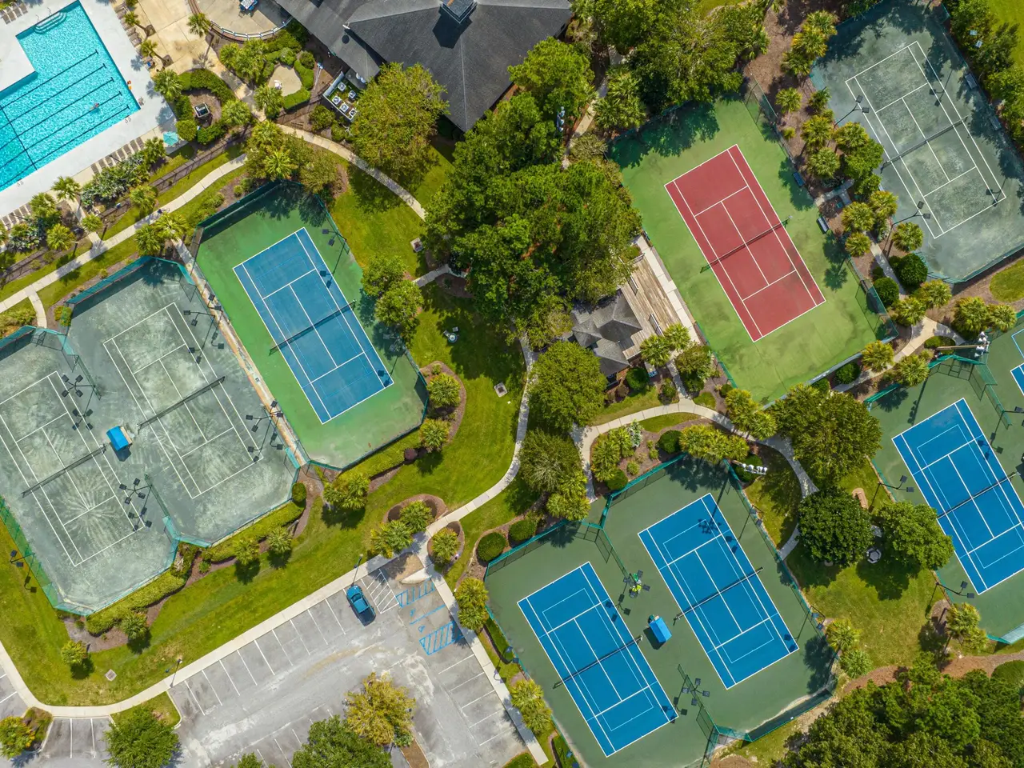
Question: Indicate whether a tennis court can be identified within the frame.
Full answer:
Yes, the image includes a tennis court.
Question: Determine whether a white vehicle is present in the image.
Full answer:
No, the frame has no white vehicle in it.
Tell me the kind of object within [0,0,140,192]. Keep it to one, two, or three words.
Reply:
swimming pool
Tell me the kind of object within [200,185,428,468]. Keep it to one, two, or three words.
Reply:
tennis court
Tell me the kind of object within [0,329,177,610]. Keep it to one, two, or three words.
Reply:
tennis court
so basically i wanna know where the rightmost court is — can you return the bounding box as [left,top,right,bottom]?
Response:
[976,320,1024,440]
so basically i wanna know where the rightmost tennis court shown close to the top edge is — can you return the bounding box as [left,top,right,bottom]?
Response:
[803,8,1024,282]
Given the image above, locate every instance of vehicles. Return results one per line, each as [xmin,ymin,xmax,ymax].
[347,586,379,630]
